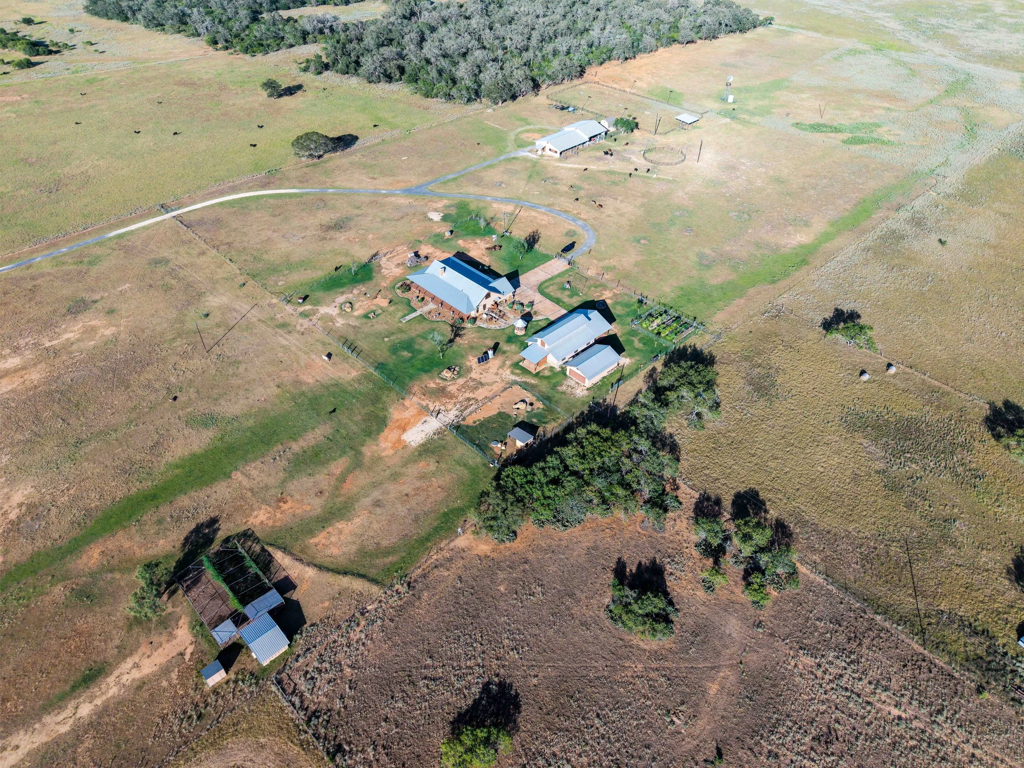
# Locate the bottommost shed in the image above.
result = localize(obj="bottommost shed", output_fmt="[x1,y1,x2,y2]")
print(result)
[200,660,227,686]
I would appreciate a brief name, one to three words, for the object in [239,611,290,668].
shed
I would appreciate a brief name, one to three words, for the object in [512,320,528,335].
gazebo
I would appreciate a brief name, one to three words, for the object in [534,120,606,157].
barn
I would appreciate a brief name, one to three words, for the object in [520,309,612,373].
building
